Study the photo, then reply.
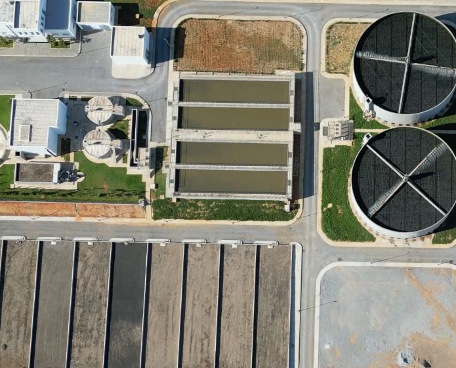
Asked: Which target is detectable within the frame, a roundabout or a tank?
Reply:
tank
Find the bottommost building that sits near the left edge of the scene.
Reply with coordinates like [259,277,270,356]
[9,98,66,153]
